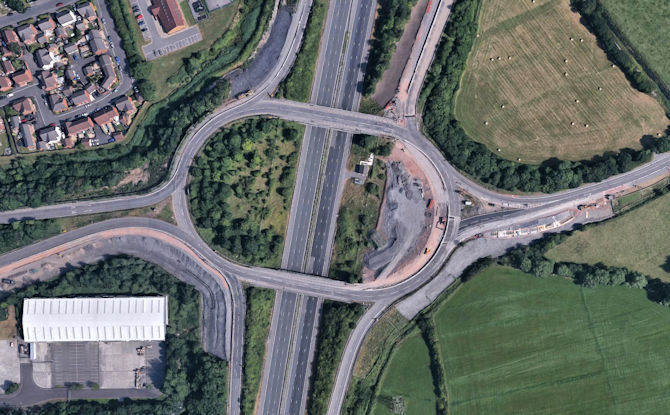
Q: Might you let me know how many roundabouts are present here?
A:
one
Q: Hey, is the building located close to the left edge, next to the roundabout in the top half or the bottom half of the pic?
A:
bottom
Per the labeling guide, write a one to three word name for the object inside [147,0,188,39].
building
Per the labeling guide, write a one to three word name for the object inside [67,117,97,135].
house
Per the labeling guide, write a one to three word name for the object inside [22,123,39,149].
house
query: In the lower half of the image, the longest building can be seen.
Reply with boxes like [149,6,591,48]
[22,296,170,343]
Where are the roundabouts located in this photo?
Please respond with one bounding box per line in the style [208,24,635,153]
[171,99,461,300]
